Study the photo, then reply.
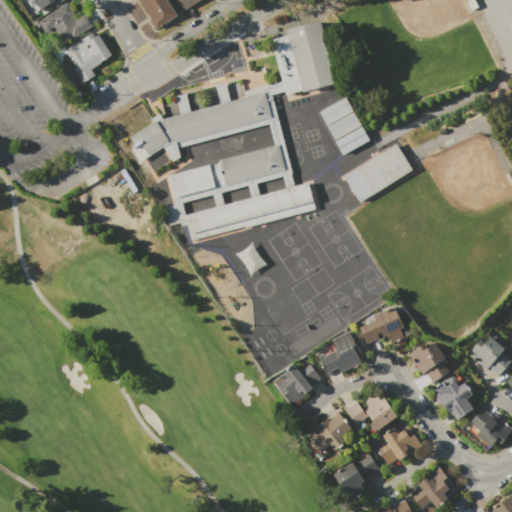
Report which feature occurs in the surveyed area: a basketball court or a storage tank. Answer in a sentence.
Visible in the photo is a basketball court.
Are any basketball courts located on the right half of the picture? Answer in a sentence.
Yes, looking on the right half of the picture, one can make out a basketball court.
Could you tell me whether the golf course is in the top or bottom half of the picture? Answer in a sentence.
Seen from above, the golf course lies in the bottom half of the view.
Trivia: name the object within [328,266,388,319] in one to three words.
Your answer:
basketball court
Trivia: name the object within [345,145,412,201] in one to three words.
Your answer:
building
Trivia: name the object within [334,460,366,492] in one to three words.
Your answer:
house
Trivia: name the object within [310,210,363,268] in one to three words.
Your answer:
basketball court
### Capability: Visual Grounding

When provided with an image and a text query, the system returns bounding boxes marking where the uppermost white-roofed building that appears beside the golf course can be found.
[128,83,316,243]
